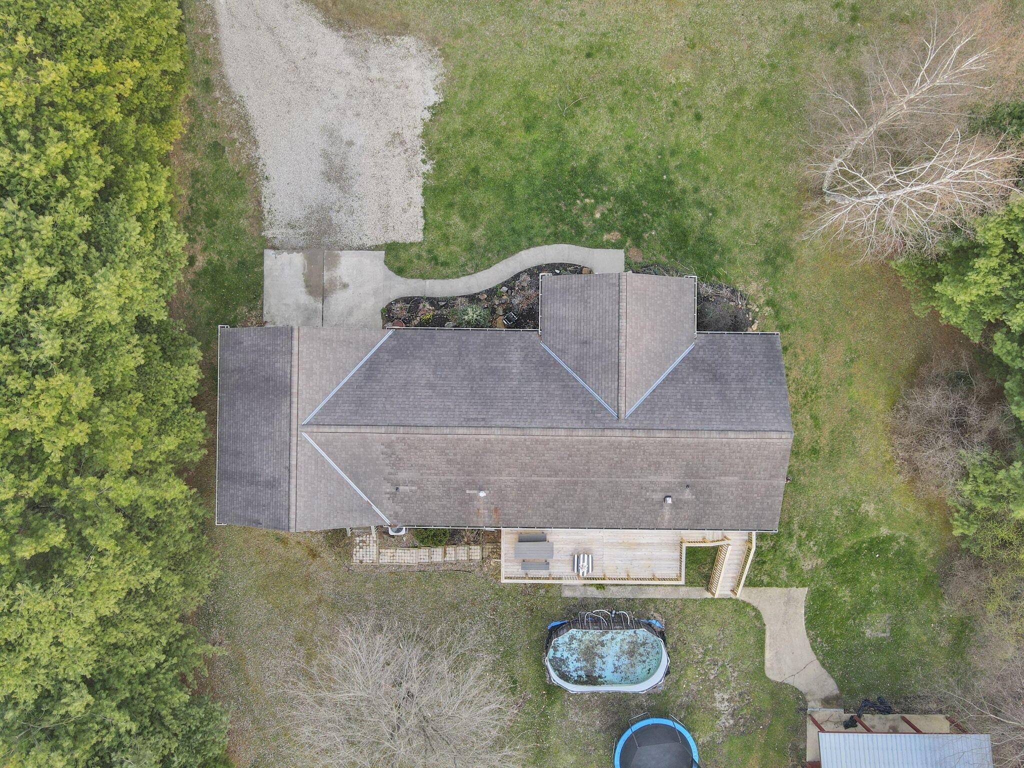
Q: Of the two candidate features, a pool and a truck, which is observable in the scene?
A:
pool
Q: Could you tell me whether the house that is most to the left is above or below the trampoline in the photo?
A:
above it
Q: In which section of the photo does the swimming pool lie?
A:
bottom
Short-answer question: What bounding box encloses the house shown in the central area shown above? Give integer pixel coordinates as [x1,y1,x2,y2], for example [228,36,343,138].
[217,272,793,534]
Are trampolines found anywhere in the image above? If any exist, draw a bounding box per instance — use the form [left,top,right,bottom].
[613,712,705,768]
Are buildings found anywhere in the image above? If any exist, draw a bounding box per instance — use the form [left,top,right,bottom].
[806,714,997,768]
[217,272,793,534]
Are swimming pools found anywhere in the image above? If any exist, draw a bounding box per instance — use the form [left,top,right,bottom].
[541,612,671,694]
